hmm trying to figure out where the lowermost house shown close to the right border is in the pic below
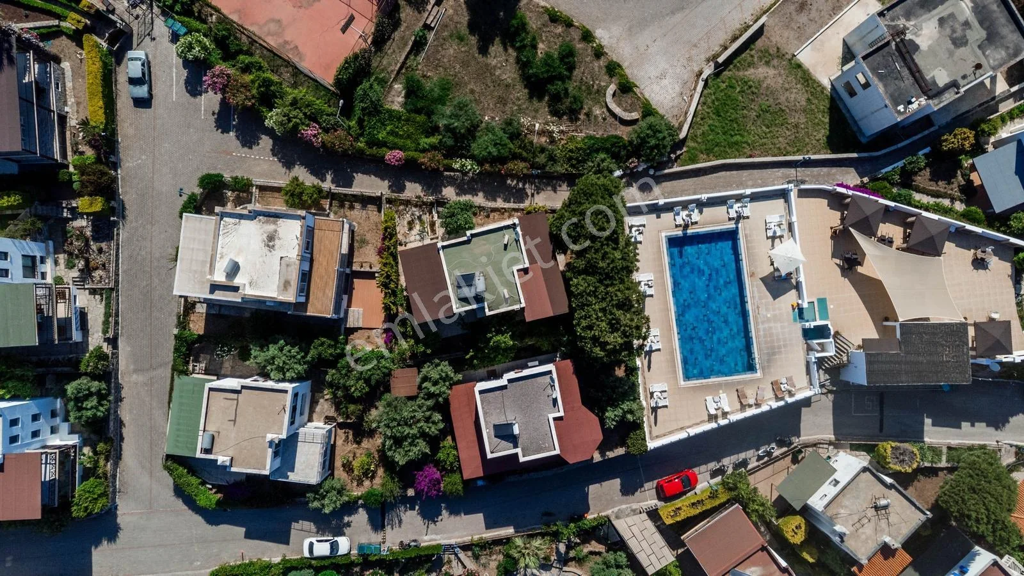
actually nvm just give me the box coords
[896,518,1013,576]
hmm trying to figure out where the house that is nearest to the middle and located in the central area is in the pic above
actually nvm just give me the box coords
[399,213,569,323]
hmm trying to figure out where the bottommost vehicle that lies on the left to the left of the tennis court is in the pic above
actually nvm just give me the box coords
[126,51,154,101]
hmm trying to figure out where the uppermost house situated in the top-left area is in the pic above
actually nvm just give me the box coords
[0,33,78,170]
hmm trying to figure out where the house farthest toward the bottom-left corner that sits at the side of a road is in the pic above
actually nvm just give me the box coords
[0,392,93,518]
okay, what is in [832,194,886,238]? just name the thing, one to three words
gazebo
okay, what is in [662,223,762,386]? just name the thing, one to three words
swimming pool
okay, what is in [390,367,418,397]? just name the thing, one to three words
shed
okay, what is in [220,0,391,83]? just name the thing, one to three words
tennis court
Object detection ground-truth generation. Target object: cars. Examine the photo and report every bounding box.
[654,470,698,497]
[126,51,154,101]
[304,533,352,559]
